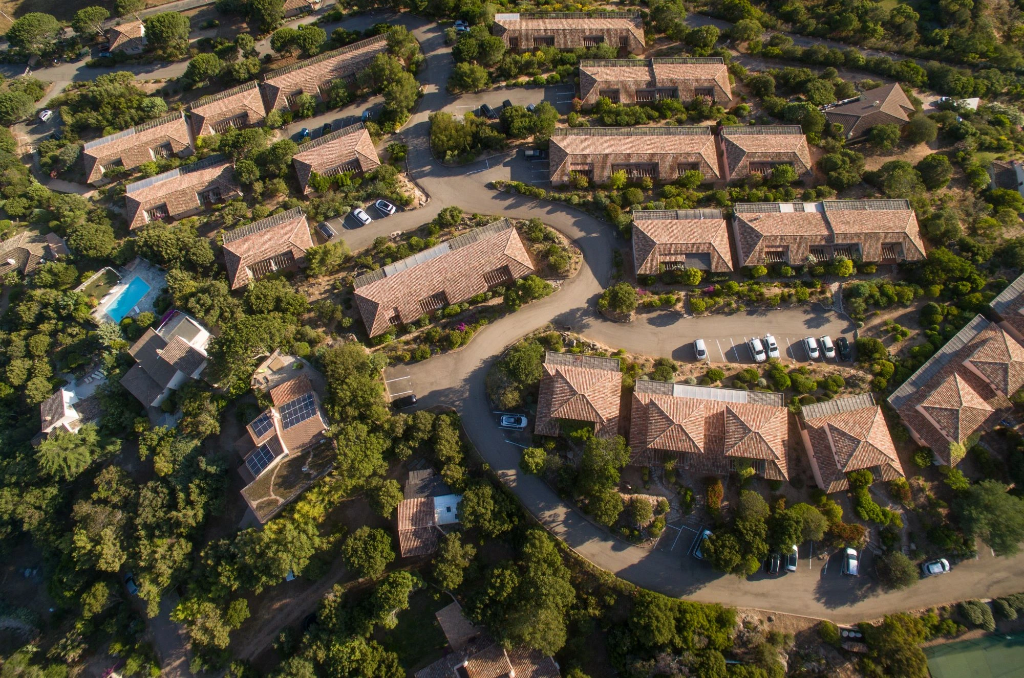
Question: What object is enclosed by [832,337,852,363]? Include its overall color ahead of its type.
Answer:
black car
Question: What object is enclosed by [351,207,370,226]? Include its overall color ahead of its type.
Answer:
white car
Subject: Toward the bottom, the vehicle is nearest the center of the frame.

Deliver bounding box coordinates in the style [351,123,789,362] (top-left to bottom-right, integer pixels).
[499,416,528,429]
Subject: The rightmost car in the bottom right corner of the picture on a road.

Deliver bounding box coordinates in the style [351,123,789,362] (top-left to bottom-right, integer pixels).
[920,560,949,575]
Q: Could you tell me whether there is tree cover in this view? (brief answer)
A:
Yes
